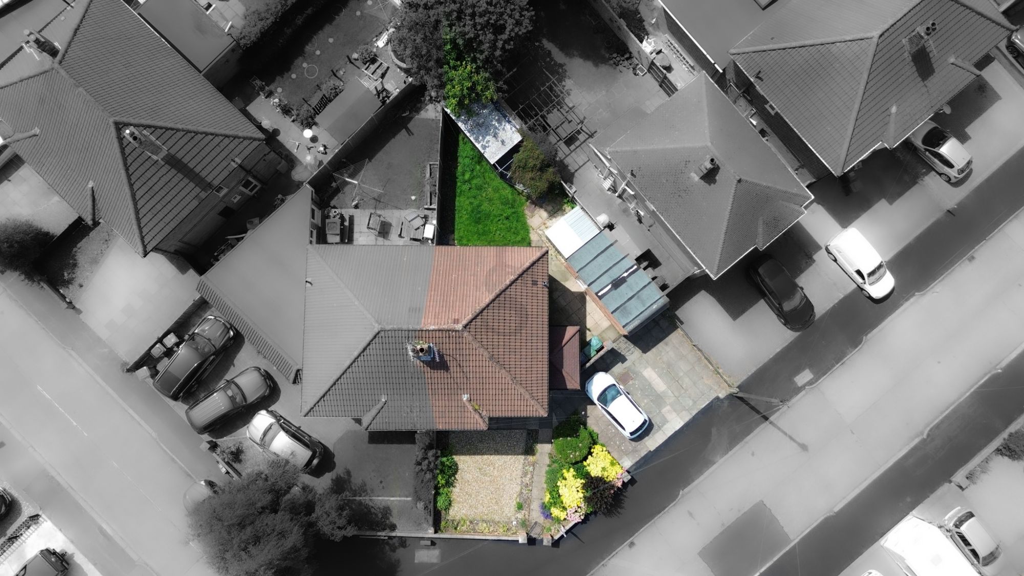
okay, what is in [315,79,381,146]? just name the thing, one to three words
shed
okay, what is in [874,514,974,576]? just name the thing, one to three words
camper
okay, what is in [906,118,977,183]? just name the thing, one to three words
car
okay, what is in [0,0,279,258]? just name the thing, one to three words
house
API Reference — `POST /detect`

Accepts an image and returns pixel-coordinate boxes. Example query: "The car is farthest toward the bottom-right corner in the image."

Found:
[939,505,1009,576]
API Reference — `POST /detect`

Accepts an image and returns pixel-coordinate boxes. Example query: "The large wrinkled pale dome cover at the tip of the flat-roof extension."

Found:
[291,159,316,179]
